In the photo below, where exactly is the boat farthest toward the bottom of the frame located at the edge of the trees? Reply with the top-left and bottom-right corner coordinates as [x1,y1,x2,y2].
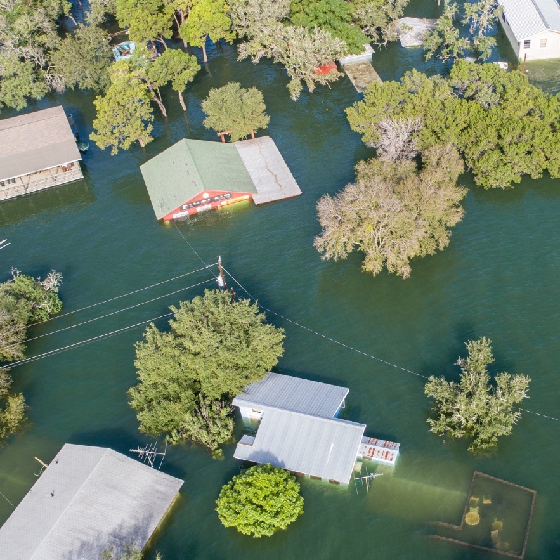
[75,136,90,152]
